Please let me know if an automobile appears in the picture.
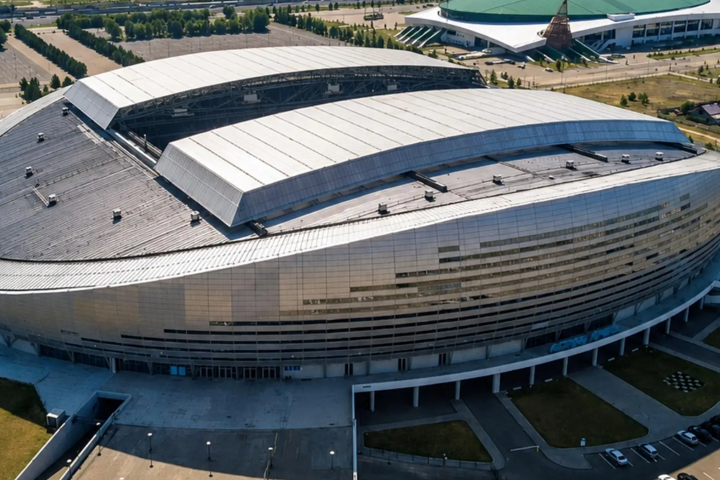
Yes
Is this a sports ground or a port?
sports ground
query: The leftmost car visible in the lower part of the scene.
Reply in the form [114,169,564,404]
[606,448,629,465]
